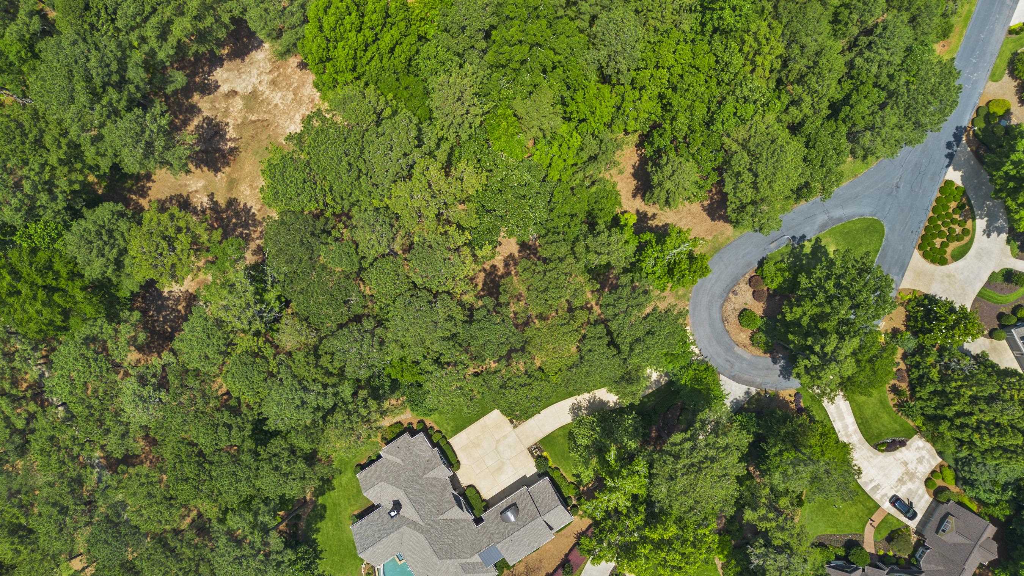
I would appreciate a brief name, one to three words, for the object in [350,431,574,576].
house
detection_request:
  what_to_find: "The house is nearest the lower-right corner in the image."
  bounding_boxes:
[822,497,998,576]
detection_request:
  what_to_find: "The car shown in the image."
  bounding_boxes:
[888,494,917,522]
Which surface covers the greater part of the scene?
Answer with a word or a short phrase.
trees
